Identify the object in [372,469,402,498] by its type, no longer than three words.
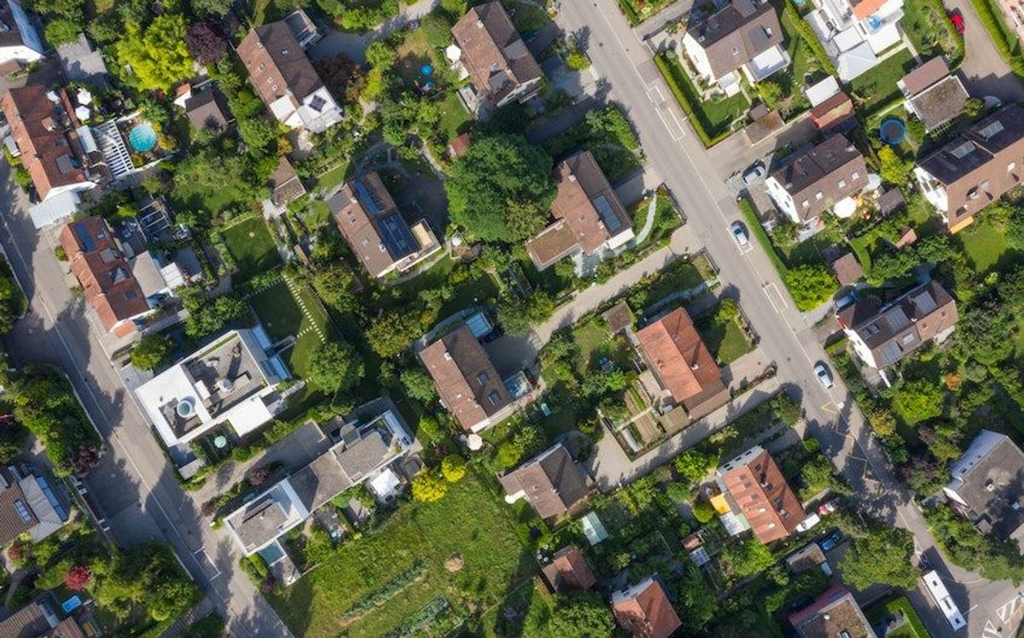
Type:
gazebo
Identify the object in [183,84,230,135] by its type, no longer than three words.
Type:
shed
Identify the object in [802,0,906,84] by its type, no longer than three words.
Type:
house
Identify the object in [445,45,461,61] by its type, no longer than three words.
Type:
umbrella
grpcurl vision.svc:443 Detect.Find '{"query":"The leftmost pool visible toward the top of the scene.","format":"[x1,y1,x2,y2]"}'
[127,121,160,151]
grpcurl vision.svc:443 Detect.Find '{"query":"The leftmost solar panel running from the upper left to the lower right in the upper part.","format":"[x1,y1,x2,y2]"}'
[76,228,100,256]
